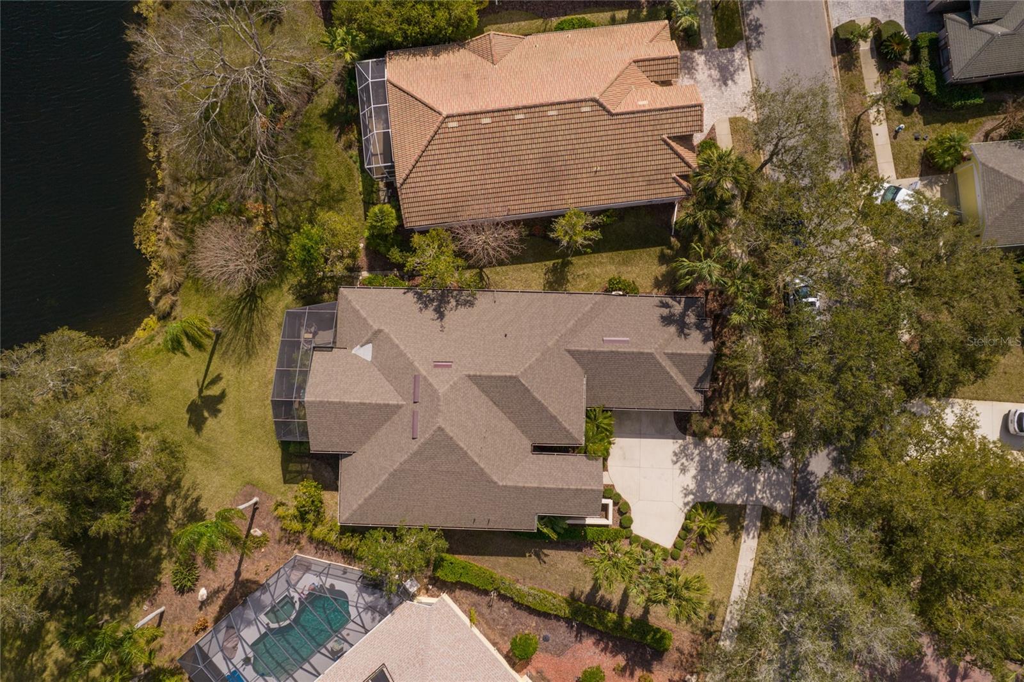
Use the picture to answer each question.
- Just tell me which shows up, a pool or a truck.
pool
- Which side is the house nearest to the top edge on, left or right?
right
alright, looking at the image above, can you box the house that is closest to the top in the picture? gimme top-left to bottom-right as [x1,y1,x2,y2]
[910,0,1024,91]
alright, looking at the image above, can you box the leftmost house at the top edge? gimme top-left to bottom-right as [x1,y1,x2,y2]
[385,18,704,235]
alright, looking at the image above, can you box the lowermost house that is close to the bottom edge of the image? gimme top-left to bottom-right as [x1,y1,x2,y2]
[308,583,545,682]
